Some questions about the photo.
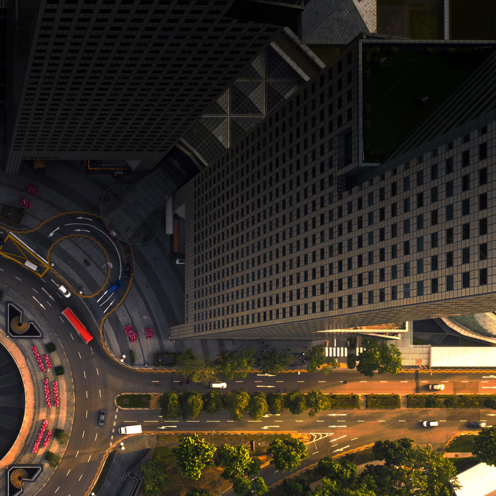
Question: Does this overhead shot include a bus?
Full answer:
Yes, a bus is visible in the scene.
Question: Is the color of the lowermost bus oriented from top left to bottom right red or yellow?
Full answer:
The color of the lowermost bus oriented from top left to bottom right is red.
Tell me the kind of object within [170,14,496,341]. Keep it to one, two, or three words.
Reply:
building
